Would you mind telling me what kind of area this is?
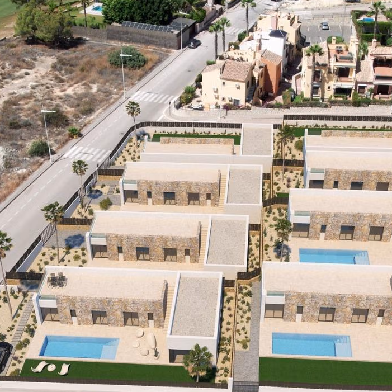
residential area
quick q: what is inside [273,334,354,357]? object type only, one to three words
swimming pool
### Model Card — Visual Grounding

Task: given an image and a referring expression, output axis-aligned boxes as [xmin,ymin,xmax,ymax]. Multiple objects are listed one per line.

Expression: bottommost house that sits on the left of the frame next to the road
[34,266,219,365]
